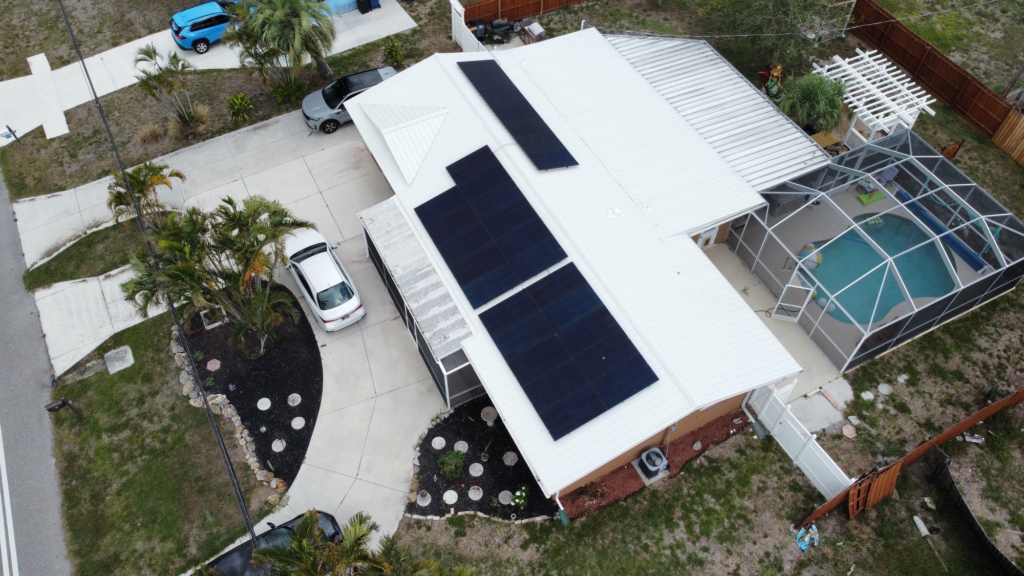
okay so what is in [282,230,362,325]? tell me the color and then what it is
white car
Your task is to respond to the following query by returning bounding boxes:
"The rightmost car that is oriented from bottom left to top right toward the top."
[297,65,391,133]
